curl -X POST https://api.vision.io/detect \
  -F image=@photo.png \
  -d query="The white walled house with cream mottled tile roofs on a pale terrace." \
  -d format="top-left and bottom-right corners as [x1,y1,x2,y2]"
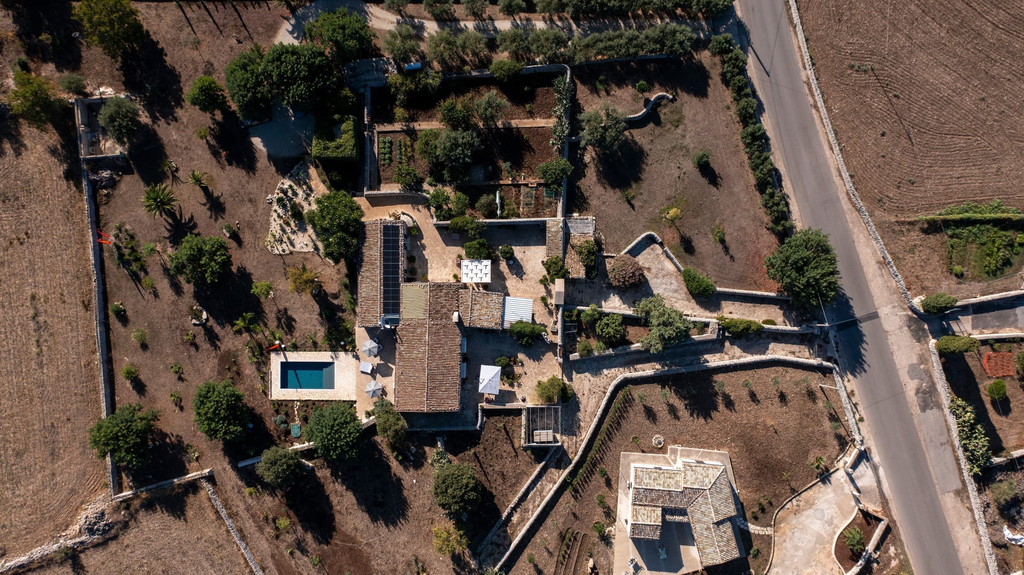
[623,457,740,566]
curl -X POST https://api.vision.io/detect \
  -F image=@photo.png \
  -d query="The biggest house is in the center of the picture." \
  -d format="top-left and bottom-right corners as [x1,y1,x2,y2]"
[357,220,505,413]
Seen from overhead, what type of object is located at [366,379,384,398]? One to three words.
umbrella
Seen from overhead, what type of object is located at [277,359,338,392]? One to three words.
swimming pool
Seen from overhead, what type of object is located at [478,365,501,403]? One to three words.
umbrella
